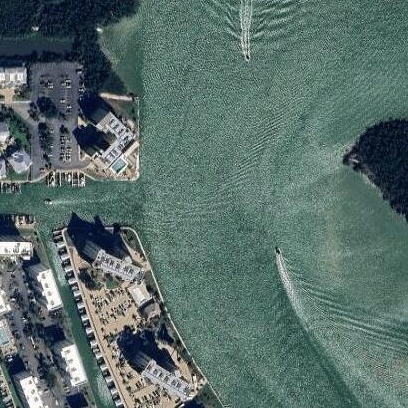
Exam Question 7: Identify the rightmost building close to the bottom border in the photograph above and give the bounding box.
[130,351,192,402]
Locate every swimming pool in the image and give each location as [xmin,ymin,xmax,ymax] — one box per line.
[0,324,12,347]
[110,157,129,177]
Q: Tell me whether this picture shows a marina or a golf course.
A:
marina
